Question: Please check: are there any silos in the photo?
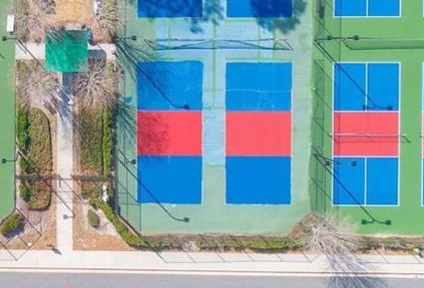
No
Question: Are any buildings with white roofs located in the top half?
No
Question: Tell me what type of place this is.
sports ground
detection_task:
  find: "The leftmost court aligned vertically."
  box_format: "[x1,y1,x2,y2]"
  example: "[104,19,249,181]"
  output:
[135,60,204,206]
